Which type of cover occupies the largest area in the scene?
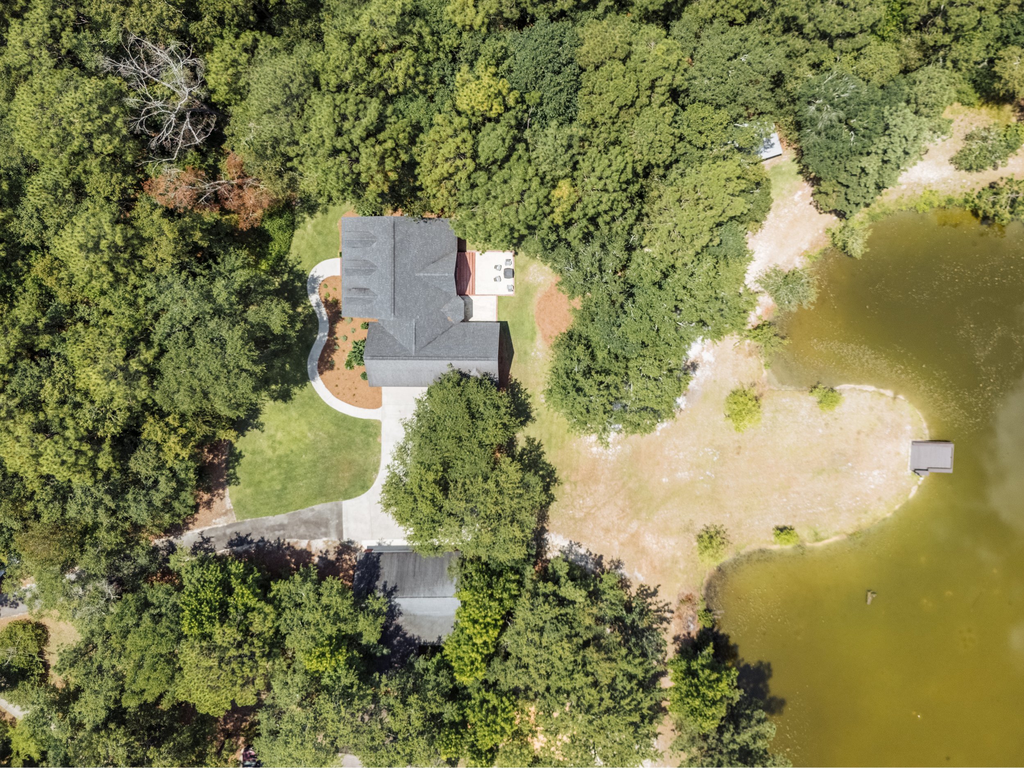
trees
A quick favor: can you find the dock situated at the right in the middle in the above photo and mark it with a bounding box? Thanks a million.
[907,438,954,481]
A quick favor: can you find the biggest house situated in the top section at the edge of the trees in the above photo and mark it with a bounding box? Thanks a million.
[342,216,499,386]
